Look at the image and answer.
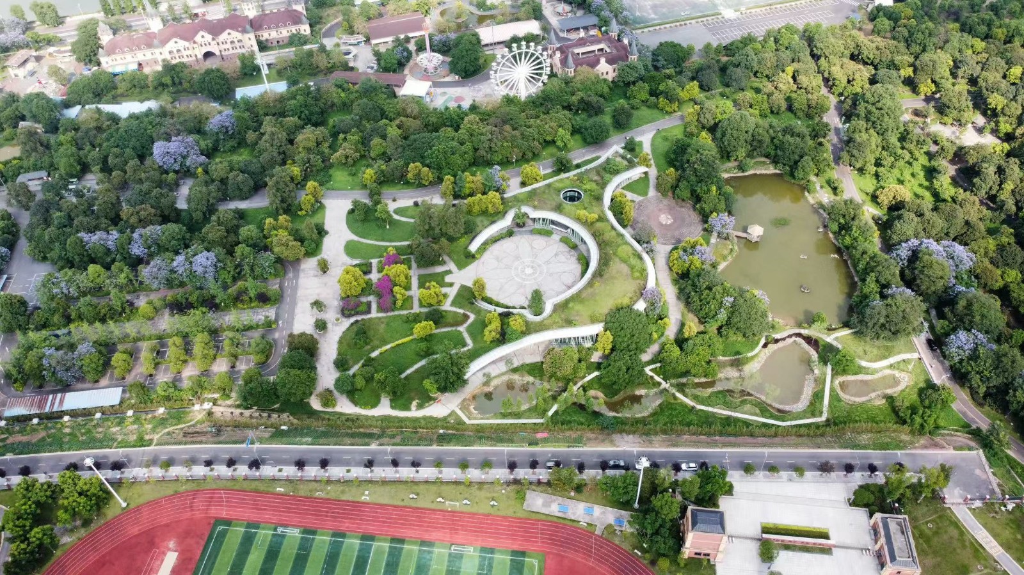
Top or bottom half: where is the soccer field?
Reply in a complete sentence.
It is in the bottom half that the soccer field appears.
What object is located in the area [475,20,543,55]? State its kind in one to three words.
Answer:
shed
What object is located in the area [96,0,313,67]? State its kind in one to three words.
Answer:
building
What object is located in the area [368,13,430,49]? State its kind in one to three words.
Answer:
shed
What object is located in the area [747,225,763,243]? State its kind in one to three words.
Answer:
gazebo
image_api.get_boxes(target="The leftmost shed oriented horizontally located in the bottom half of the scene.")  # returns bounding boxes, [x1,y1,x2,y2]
[3,386,123,421]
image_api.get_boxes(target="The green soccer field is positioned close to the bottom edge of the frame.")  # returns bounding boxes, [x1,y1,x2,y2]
[194,520,545,575]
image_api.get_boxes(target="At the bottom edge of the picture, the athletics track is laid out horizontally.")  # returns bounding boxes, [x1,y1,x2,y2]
[43,489,654,575]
